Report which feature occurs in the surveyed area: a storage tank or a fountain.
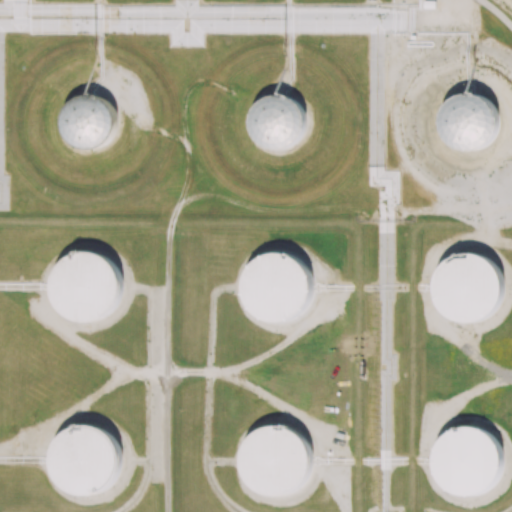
storage tank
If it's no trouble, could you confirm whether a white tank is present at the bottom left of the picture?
Yes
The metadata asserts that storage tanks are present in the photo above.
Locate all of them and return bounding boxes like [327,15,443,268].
[436,62,500,154]
[246,68,310,156]
[48,251,124,324]
[58,61,118,152]
[430,252,506,324]
[238,250,314,325]
[429,426,505,498]
[46,424,122,497]
[236,424,312,498]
